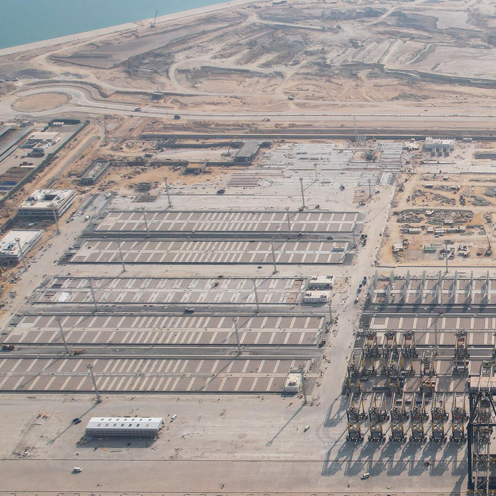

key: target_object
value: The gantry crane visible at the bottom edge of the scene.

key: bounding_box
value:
[466,359,496,496]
